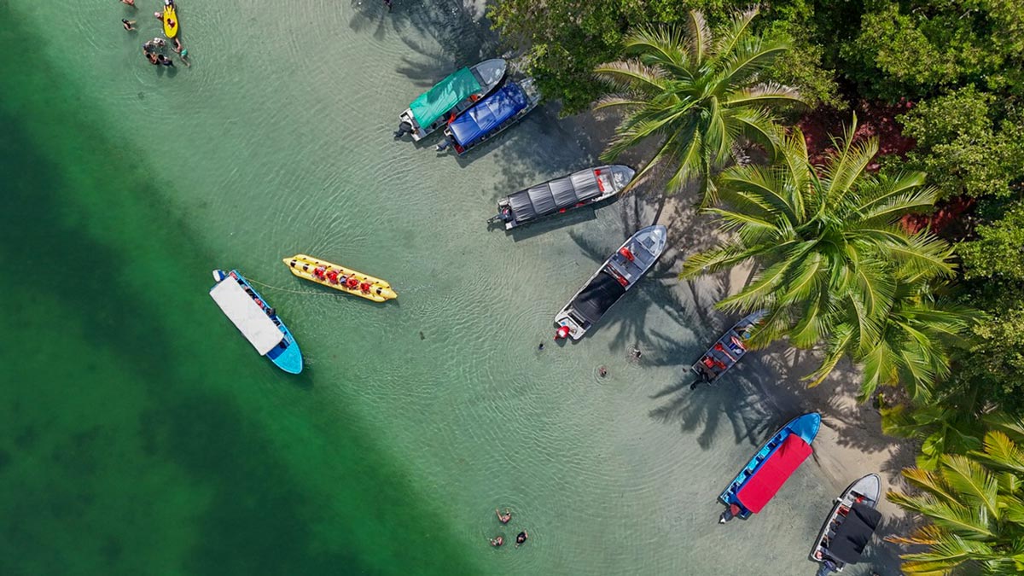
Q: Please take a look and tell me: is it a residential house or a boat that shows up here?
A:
boat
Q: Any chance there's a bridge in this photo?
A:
No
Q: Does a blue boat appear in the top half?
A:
Yes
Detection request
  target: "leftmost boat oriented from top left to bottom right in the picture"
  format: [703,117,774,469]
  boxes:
[205,270,306,374]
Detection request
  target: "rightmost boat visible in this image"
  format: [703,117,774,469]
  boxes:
[810,471,882,576]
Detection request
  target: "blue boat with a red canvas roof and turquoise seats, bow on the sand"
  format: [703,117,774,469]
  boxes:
[715,413,824,520]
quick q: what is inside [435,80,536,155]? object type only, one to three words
boat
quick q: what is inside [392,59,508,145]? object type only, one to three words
boat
